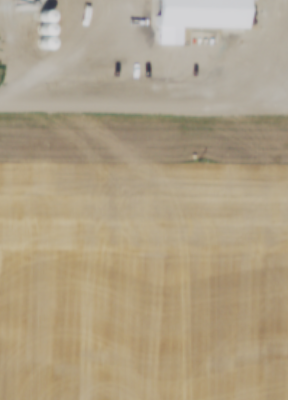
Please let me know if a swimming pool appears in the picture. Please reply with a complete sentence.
No, I can't see a single swimming pool in this photo.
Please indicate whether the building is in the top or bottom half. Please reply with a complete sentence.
The building is in the top half of the image.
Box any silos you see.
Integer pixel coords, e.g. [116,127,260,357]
[38,9,60,23]
[38,22,60,36]
[38,36,60,50]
